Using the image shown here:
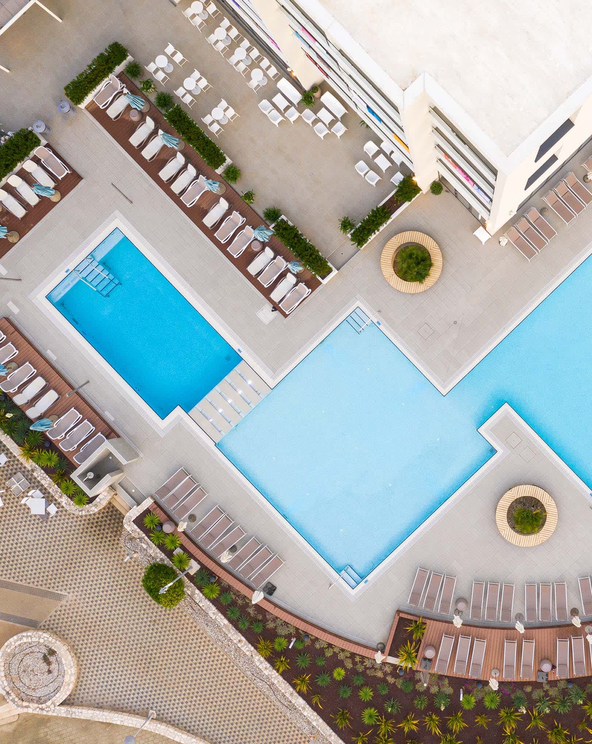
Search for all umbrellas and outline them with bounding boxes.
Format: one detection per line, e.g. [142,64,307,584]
[374,640,386,662]
[178,512,198,527]
[0,360,18,373]
[162,131,186,151]
[497,237,508,251]
[290,259,307,273]
[420,658,432,684]
[259,582,277,602]
[206,177,226,194]
[257,226,275,241]
[32,185,61,201]
[453,607,465,626]
[127,91,152,112]
[220,544,239,560]
[490,667,501,690]
[29,416,60,430]
[570,606,583,625]
[584,624,592,643]
[581,168,592,185]
[513,612,525,632]
[0,227,19,243]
